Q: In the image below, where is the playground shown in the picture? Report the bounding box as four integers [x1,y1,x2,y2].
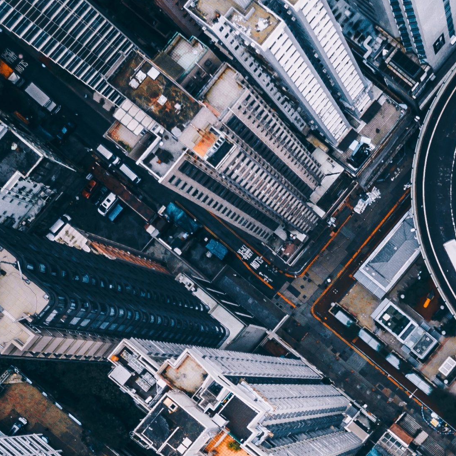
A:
[409,285,439,331]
